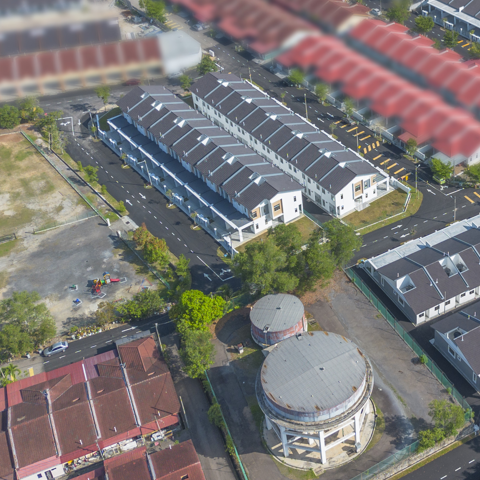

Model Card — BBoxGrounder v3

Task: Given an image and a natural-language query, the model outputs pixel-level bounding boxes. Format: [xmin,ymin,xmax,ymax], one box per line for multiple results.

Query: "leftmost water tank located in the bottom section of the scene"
[248,291,309,352]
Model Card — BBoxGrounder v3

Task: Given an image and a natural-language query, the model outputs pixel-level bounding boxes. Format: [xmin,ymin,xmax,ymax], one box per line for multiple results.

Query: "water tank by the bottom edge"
[256,334,379,471]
